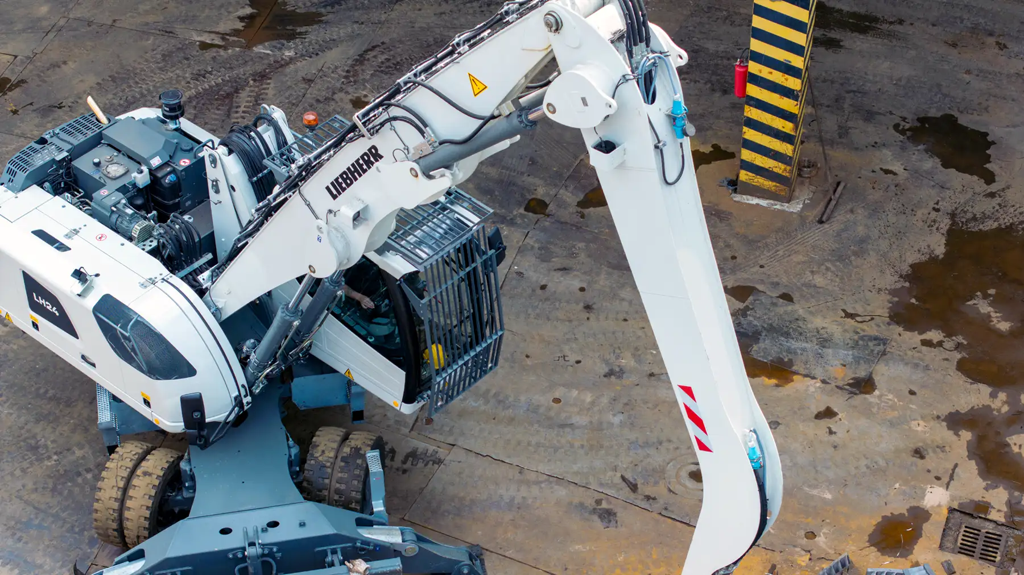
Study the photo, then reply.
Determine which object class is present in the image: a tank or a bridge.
tank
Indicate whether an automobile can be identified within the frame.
No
